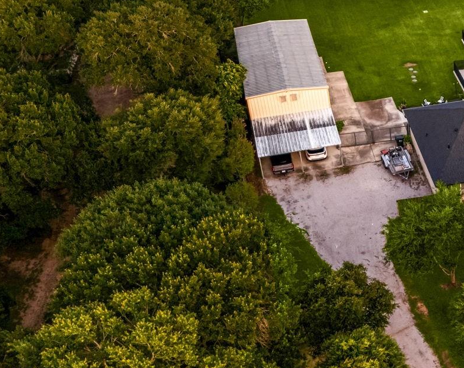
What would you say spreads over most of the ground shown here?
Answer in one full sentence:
The largest share of the image is taken up by trees.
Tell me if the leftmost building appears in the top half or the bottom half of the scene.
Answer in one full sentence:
The leftmost building sits in the top half of the picture.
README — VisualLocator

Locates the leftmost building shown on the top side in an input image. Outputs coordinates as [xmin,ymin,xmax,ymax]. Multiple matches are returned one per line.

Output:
[234,18,344,177]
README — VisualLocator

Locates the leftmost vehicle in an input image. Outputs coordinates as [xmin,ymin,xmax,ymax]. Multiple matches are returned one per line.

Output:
[271,154,294,172]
